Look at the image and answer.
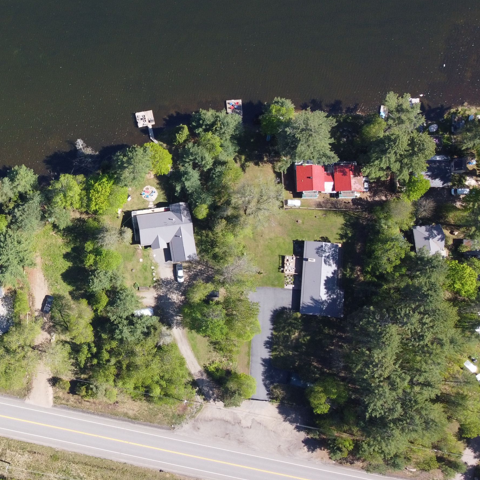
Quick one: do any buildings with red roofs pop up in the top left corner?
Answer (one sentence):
No, the scene shows no building with a red roof in the top left corner.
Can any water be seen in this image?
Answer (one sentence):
Yes, the picture does contain water.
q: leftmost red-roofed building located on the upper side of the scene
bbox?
[294,164,325,199]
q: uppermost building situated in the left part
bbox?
[136,201,199,262]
